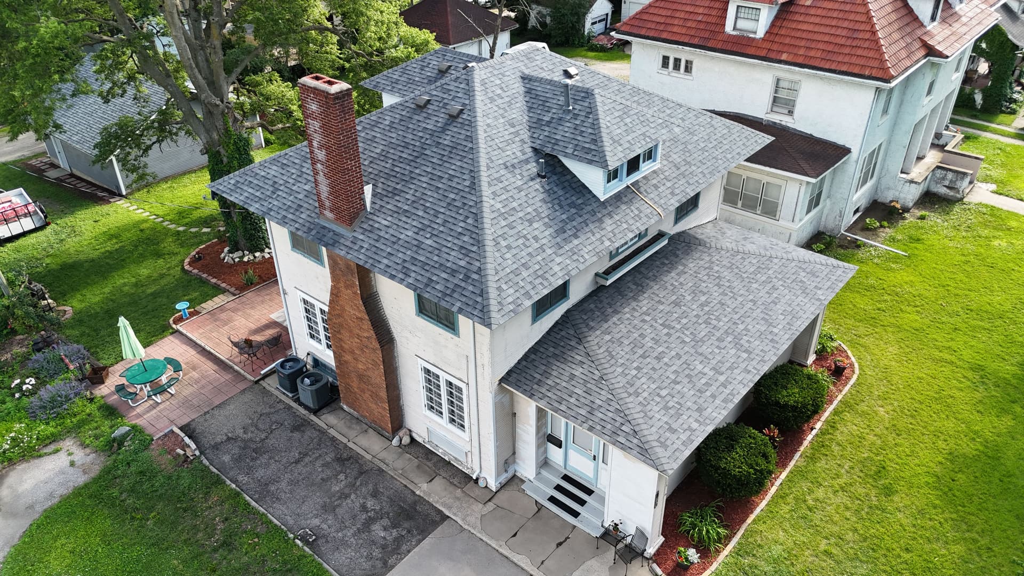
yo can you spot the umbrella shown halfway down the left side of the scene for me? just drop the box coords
[122,316,149,368]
